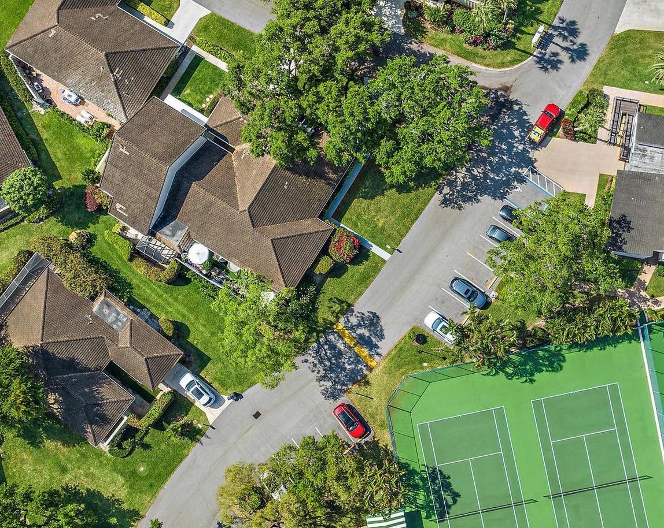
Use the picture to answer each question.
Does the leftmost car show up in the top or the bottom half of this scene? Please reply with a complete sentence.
You can find the leftmost car in the bottom half.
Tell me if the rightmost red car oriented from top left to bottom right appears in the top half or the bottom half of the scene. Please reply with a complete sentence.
Seen from above, the rightmost red car oriented from top left to bottom right lies in the bottom half of the view.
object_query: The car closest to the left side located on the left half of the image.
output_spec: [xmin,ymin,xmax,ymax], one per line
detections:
[178,374,215,405]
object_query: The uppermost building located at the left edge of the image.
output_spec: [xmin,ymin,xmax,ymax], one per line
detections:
[4,0,181,123]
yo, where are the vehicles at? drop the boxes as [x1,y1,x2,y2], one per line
[332,402,366,440]
[422,312,459,345]
[178,374,215,405]
[496,203,532,232]
[483,223,522,249]
[449,278,488,308]
[526,101,563,146]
